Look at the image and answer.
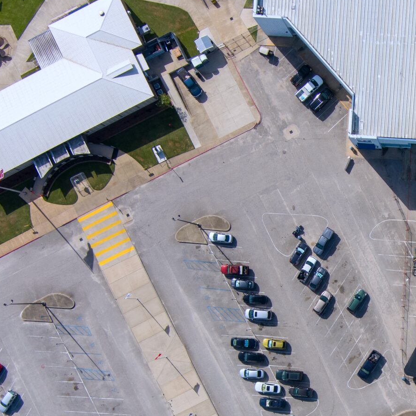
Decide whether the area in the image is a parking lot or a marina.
parking lot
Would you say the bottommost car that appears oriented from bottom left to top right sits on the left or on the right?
left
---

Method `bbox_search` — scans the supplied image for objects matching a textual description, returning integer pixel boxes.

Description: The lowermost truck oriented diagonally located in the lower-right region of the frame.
[358,348,383,380]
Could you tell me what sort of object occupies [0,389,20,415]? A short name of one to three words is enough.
car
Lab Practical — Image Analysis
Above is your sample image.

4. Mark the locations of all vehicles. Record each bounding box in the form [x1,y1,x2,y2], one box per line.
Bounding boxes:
[230,278,256,290]
[260,397,287,410]
[311,289,333,316]
[242,294,269,305]
[240,368,266,380]
[0,389,20,415]
[263,338,288,350]
[219,263,253,277]
[313,224,338,256]
[288,241,309,267]
[358,348,383,380]
[207,232,234,244]
[310,86,332,115]
[308,266,329,291]
[346,289,368,315]
[276,369,305,382]
[246,309,272,322]
[239,352,266,364]
[297,72,323,105]
[289,387,315,399]
[290,63,311,90]
[295,254,320,287]
[178,68,203,99]
[231,338,258,350]
[254,382,281,394]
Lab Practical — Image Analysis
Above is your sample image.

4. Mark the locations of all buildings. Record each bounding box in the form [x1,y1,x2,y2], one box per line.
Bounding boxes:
[253,0,416,151]
[0,0,156,198]
[195,35,217,54]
